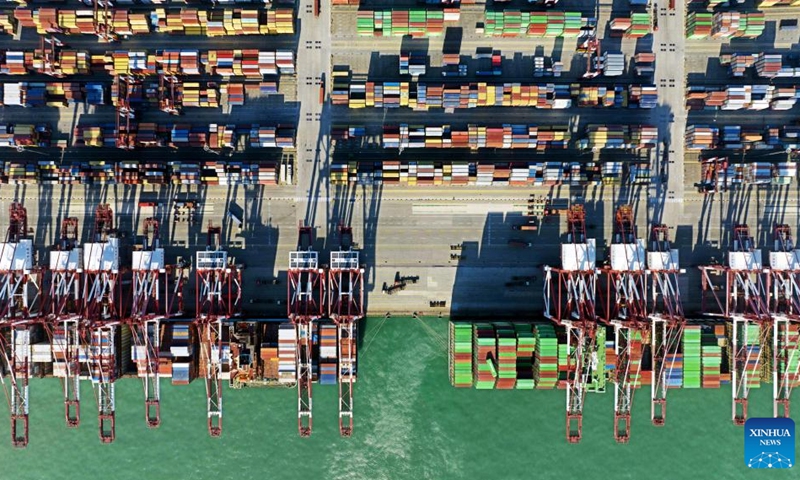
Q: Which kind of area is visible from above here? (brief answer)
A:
port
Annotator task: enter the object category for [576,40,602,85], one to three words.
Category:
container crane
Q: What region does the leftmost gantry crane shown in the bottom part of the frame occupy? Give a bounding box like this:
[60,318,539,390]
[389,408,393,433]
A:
[0,205,80,444]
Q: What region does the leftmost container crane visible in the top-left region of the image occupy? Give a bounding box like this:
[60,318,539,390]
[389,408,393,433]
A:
[39,40,73,84]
